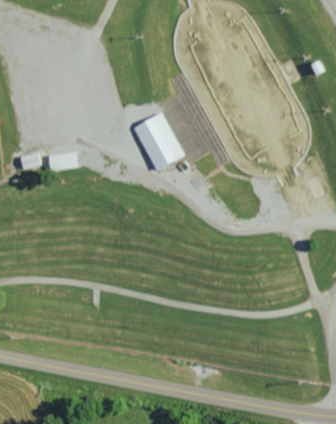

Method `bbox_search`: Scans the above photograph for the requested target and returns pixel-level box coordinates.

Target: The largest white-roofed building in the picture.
[135,112,186,171]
